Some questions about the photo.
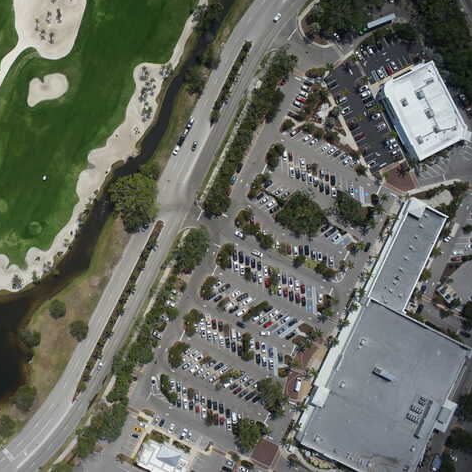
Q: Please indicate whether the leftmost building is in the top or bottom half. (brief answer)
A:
bottom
